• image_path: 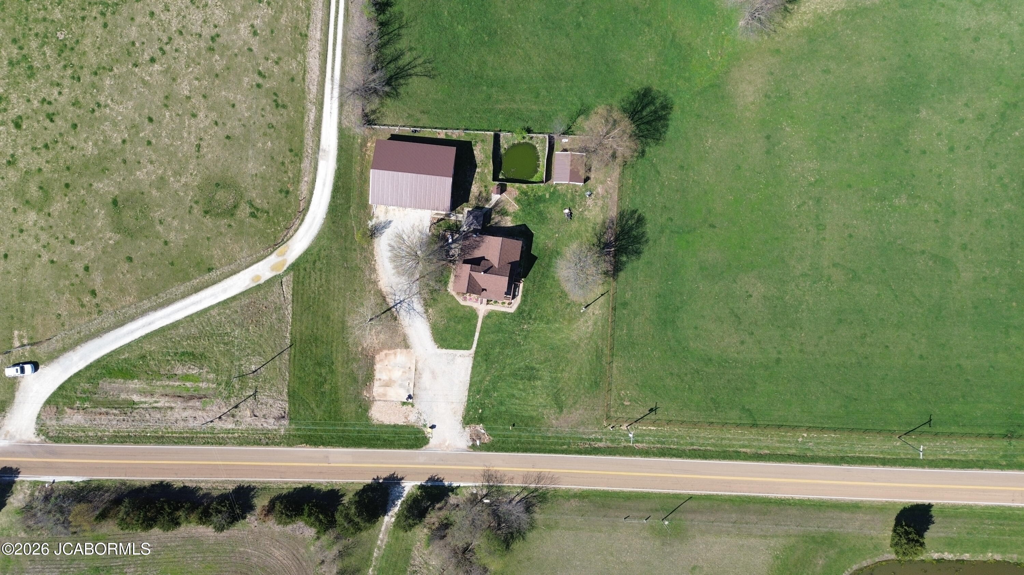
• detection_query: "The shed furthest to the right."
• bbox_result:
[553,151,586,185]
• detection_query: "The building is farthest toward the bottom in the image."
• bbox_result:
[453,232,522,303]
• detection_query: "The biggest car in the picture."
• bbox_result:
[5,363,38,377]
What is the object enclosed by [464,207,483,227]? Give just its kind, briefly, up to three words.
gazebo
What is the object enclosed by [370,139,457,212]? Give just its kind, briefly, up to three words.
barn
